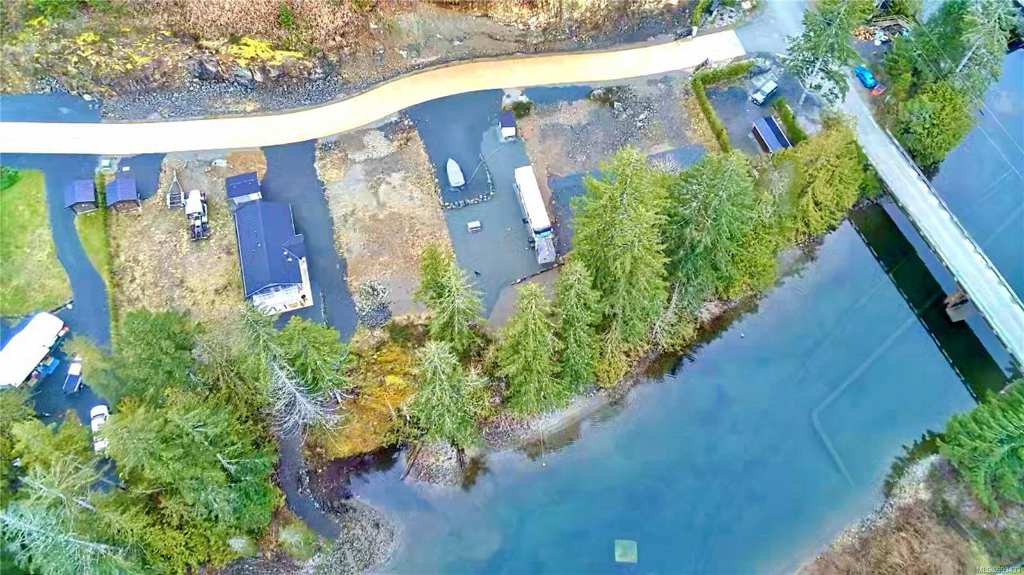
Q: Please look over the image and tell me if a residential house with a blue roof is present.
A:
Yes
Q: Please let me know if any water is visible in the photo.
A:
Yes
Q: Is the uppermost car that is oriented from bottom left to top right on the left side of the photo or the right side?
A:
right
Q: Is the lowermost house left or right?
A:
left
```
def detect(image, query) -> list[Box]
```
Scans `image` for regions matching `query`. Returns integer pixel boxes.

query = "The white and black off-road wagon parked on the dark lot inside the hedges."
[750,78,780,108]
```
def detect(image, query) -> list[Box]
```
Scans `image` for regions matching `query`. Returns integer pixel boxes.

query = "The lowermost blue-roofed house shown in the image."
[236,204,316,322]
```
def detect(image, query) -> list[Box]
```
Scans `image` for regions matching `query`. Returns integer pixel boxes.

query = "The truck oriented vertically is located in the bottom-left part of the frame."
[90,399,116,453]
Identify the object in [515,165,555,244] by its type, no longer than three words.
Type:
camper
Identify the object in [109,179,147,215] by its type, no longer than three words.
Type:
shed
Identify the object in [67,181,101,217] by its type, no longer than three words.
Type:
shed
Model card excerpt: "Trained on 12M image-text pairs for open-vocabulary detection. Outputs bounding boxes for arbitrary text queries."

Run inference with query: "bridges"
[853,132,1024,375]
